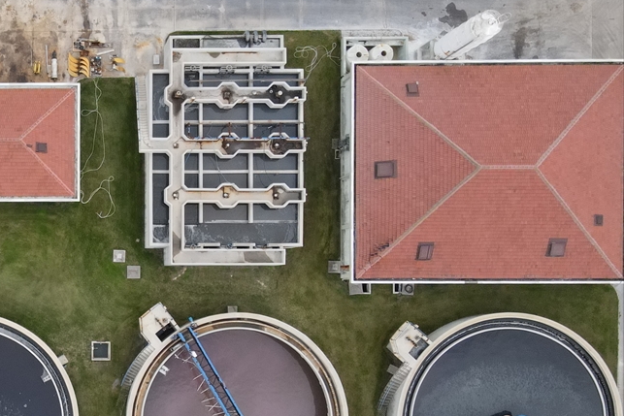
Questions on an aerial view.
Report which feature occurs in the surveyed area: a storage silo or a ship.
storage silo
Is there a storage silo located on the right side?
Yes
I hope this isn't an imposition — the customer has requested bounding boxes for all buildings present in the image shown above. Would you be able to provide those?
[332,61,624,283]
[0,84,81,203]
